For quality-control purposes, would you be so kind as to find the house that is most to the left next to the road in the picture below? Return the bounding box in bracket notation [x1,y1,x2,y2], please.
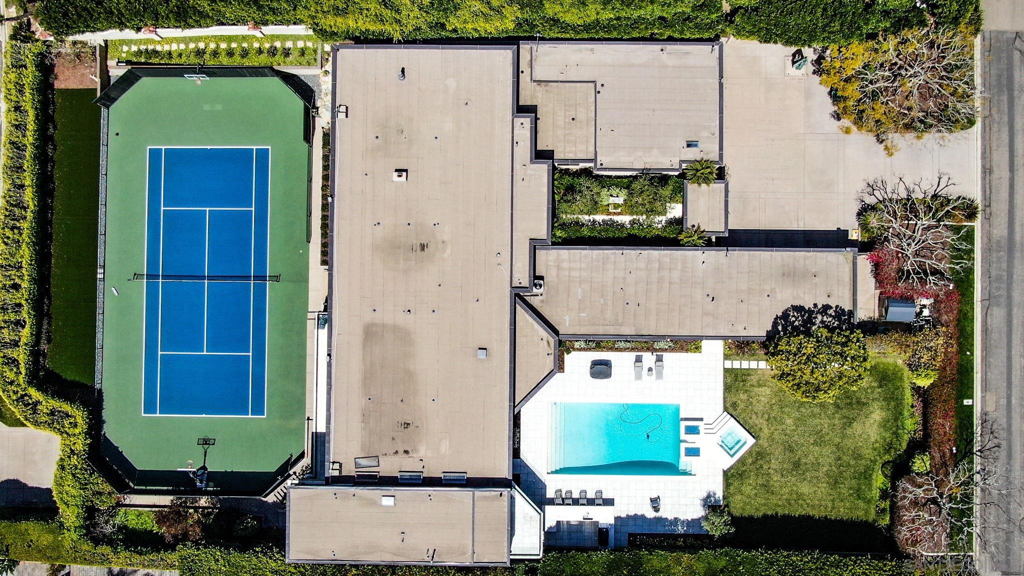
[286,41,857,566]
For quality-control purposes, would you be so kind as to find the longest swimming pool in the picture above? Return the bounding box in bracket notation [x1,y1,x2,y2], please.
[545,399,698,479]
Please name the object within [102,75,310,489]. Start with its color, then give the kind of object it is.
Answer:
green tennis court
